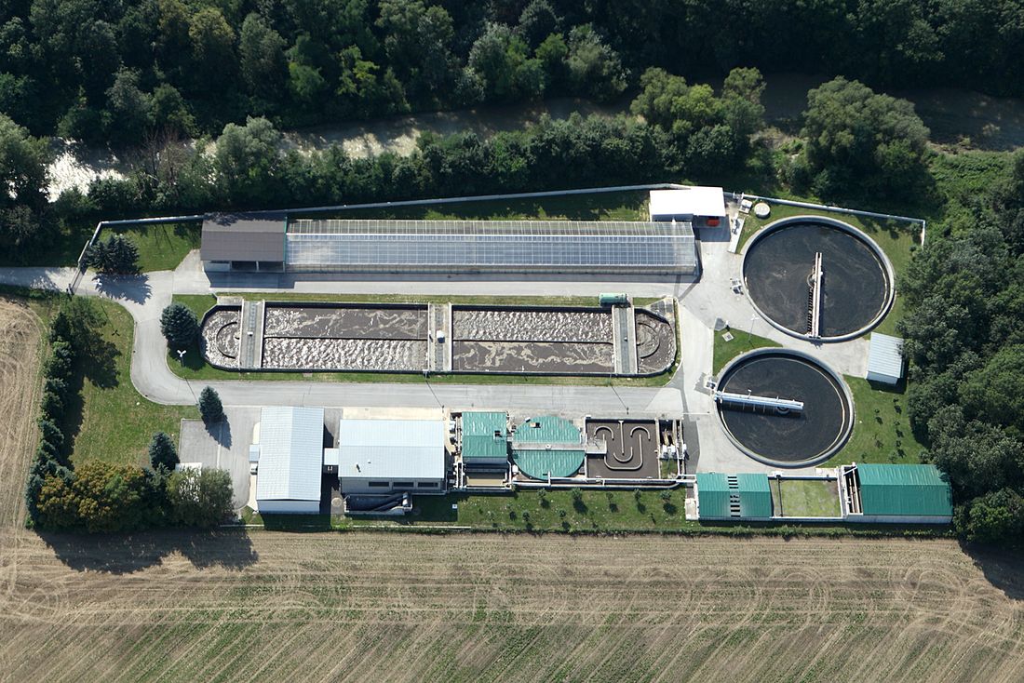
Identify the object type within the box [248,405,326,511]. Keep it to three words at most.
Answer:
building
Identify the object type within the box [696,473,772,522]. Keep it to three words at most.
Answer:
house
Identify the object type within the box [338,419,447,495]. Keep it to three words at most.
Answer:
house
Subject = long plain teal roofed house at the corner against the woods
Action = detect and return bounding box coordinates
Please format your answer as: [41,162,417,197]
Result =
[856,464,950,521]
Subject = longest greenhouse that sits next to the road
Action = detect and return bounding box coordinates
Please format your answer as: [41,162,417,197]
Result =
[288,220,697,275]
